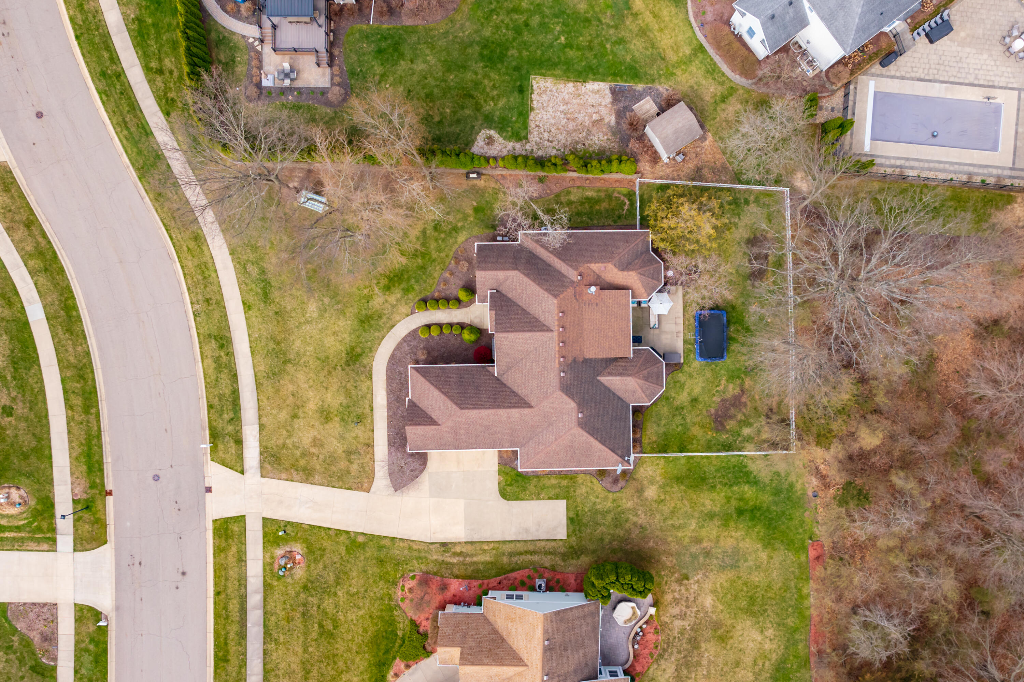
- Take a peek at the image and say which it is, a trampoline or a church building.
trampoline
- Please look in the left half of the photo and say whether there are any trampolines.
No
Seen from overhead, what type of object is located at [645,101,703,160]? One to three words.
shed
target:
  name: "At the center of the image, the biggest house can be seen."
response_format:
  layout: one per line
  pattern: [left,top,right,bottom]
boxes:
[405,229,666,471]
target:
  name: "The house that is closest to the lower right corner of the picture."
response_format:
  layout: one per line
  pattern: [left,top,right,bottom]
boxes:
[437,590,631,682]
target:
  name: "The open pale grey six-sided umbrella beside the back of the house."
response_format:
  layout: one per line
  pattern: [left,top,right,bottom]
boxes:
[649,292,673,314]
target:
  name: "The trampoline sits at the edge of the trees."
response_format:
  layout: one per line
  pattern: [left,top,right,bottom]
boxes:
[694,310,729,361]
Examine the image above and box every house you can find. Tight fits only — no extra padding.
[437,590,631,682]
[405,229,666,471]
[730,0,928,72]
